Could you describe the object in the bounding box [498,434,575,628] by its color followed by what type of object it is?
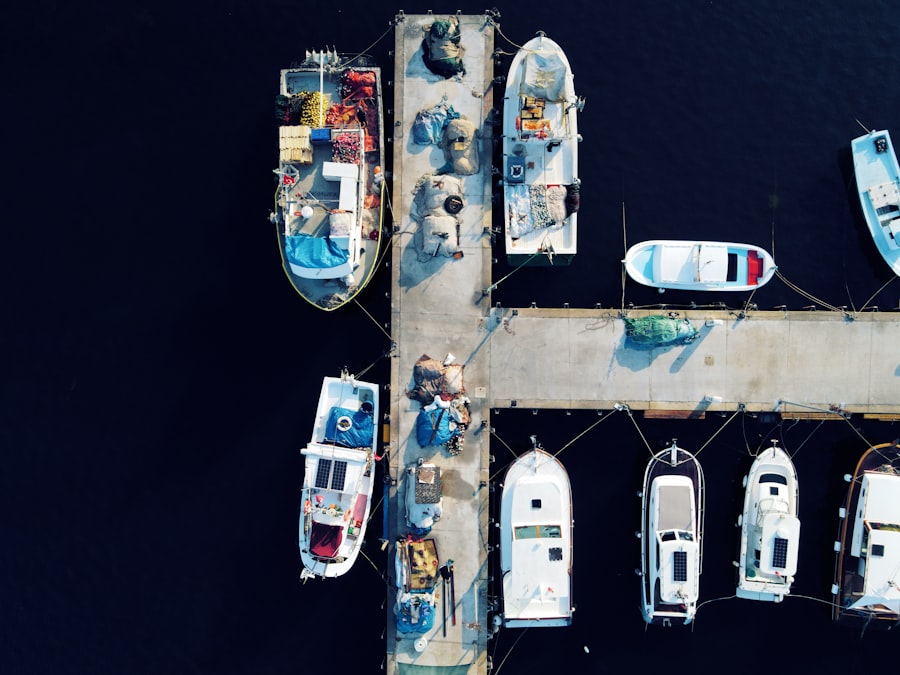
white boat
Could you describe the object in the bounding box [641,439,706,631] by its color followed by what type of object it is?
white boat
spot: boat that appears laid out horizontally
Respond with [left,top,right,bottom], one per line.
[624,239,778,292]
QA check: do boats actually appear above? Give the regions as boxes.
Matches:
[503,32,587,266]
[624,239,778,292]
[835,439,900,626]
[849,129,900,279]
[298,367,380,580]
[736,439,800,602]
[275,46,385,311]
[641,439,706,631]
[498,434,575,628]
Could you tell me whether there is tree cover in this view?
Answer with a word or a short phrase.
No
